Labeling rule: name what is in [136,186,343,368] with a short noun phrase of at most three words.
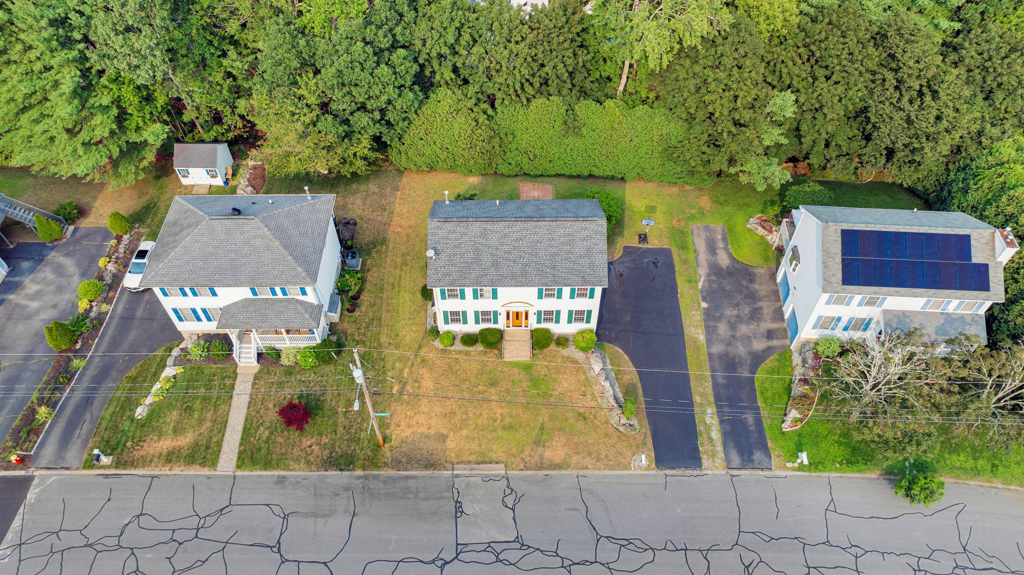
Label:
house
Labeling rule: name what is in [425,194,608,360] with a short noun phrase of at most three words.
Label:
house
